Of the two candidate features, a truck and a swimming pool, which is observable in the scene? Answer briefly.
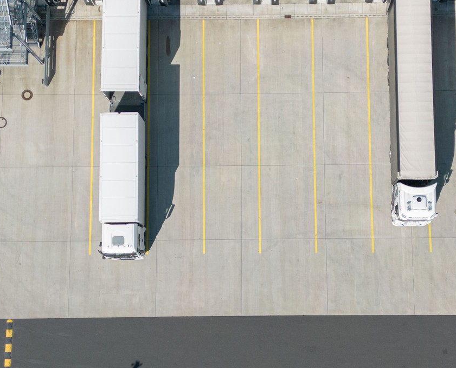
truck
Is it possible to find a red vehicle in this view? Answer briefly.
No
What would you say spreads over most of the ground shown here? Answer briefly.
paved ground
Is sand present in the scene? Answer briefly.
No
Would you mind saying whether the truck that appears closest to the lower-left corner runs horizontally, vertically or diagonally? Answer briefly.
vertically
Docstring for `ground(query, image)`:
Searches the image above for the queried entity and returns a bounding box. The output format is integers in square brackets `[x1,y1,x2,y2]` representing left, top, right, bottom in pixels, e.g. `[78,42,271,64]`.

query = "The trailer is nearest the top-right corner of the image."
[385,0,438,188]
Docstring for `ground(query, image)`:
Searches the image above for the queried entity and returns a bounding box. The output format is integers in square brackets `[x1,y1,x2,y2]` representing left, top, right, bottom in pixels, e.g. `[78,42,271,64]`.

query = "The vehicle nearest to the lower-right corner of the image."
[389,163,439,226]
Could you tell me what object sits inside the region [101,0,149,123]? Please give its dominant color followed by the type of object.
white trailer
